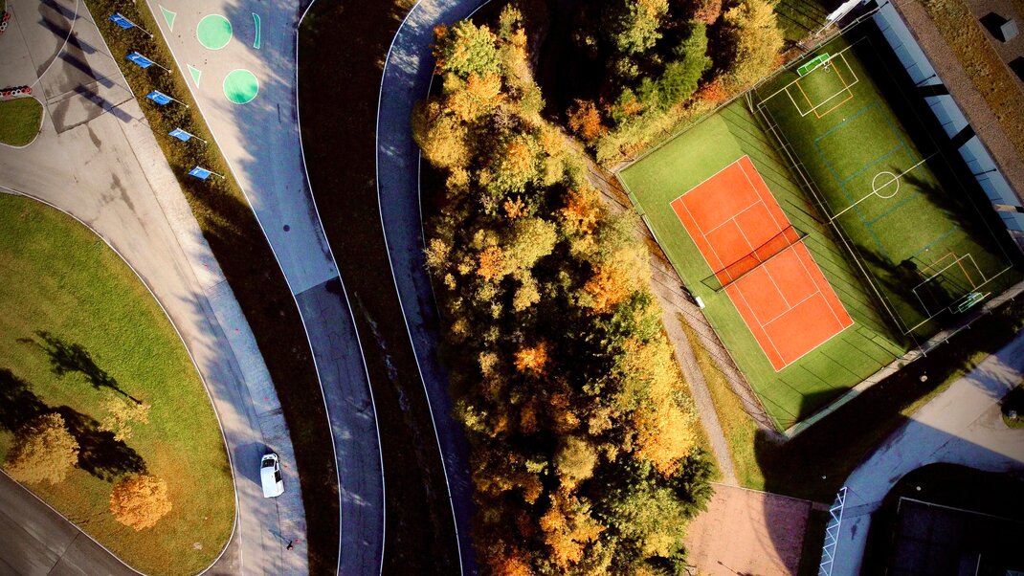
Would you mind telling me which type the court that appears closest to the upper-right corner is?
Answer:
tennis court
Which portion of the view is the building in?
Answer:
top right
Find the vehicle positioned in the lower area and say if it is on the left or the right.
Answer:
left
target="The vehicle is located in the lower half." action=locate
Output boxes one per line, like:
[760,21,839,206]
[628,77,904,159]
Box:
[262,452,286,498]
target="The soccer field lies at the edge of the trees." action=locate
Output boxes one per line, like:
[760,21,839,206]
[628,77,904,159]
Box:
[752,20,1024,341]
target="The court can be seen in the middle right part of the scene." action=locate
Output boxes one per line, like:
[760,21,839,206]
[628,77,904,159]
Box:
[619,98,910,433]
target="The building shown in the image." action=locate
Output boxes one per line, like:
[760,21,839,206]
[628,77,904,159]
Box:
[866,0,1024,259]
